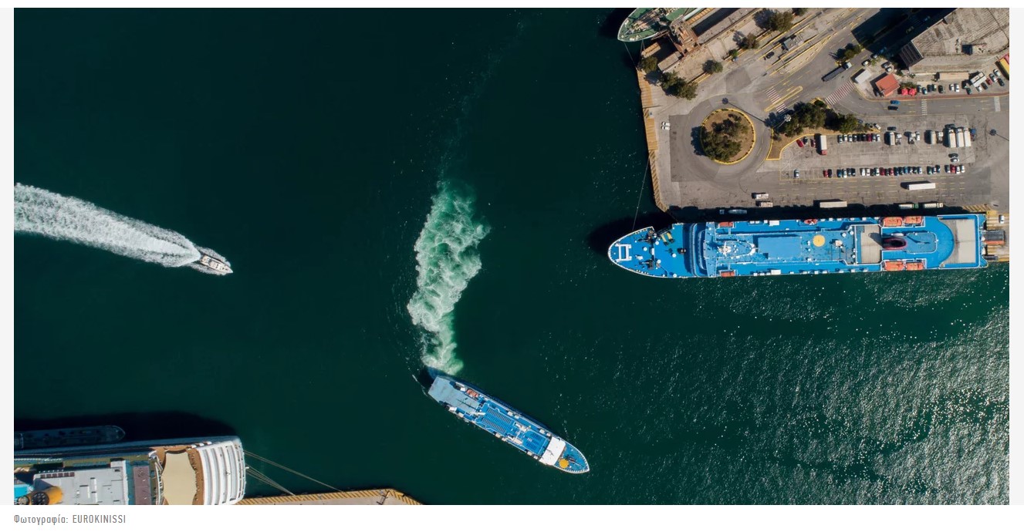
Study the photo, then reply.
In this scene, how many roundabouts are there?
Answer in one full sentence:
The picture shows just 1 roundabout.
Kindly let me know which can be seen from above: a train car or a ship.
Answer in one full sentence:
Visible in the photo is a ship.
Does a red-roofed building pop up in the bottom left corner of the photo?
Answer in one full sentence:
No, there is no red-roofed building in the bottom left corner of the photo.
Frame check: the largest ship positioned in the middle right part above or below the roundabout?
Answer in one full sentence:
Looking at the photo, you'll find the largest ship positioned in the middle right part below the roundabout.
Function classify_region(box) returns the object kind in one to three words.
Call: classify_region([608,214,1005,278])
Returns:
ship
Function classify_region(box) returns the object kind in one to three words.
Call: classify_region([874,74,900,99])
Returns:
house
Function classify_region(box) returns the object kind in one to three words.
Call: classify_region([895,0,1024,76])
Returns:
building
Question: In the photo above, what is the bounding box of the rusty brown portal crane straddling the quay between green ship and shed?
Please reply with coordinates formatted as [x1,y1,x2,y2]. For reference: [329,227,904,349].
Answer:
[652,17,703,59]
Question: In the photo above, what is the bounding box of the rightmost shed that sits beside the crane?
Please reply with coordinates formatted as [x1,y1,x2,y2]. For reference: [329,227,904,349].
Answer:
[699,0,773,43]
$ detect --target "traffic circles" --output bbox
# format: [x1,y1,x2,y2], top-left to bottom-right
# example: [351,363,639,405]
[688,96,768,176]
